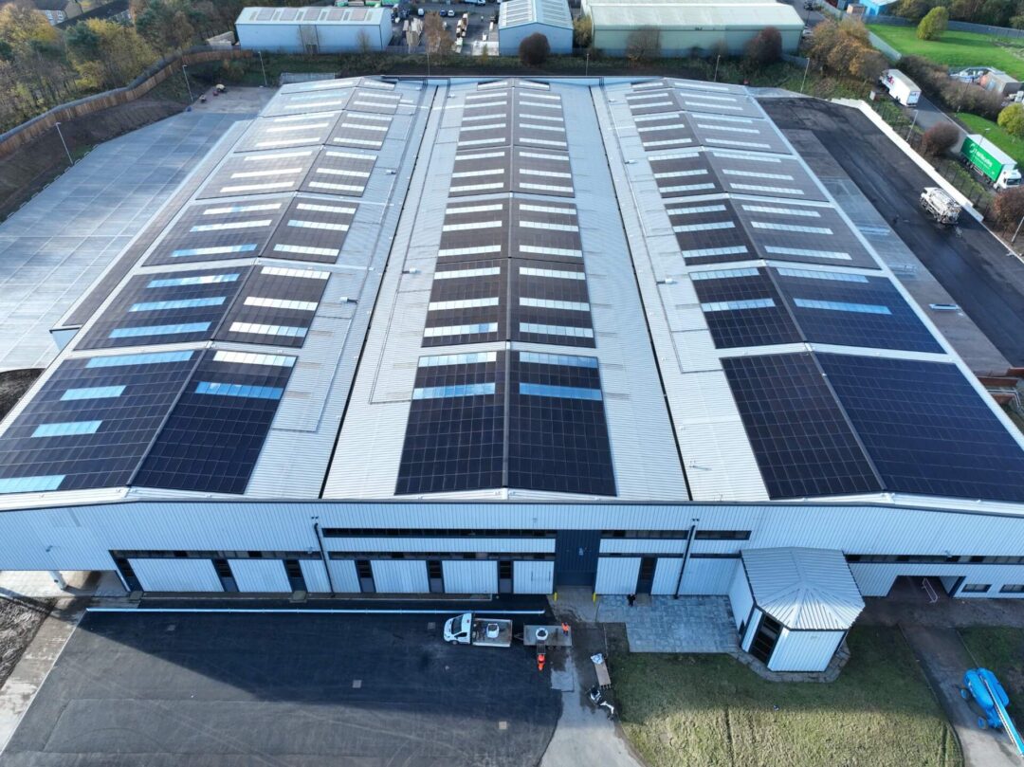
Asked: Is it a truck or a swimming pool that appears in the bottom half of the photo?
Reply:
truck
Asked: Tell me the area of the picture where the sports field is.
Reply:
top right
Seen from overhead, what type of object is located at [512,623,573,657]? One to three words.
trailer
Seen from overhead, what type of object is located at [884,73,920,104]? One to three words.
truck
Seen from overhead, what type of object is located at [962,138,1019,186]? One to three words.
truck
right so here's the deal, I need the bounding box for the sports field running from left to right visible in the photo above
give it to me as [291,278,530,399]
[855,22,1024,77]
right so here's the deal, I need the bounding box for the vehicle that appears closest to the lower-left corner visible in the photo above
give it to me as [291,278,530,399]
[442,614,512,647]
